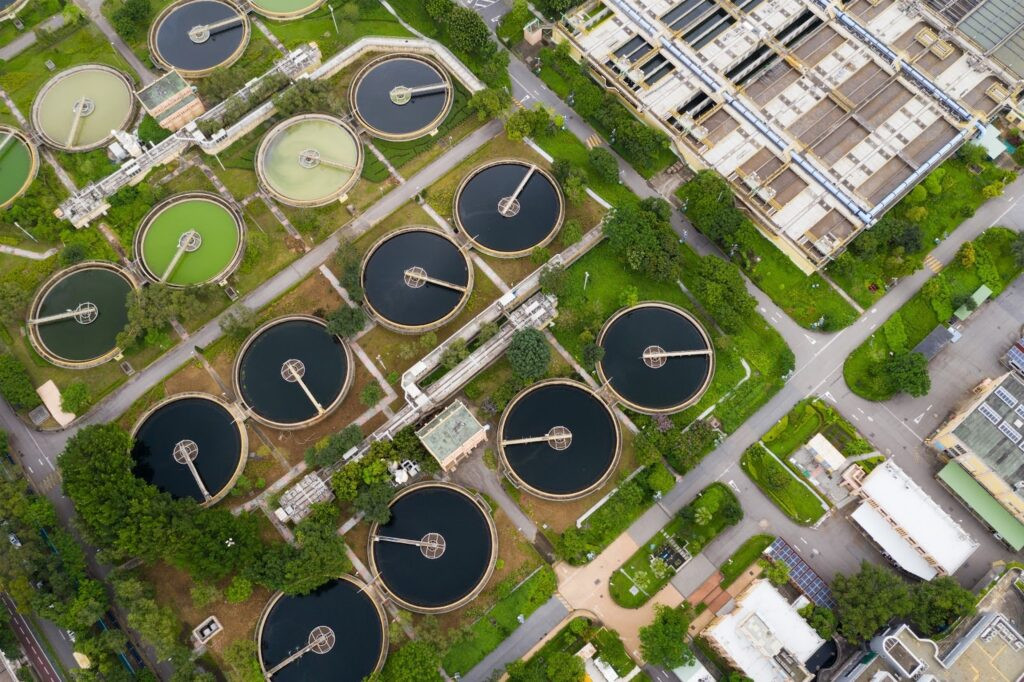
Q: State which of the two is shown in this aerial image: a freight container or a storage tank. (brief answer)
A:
storage tank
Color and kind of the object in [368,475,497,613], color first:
black storage tank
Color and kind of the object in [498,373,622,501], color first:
black storage tank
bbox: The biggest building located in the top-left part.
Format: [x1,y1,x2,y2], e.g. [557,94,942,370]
[135,67,204,133]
